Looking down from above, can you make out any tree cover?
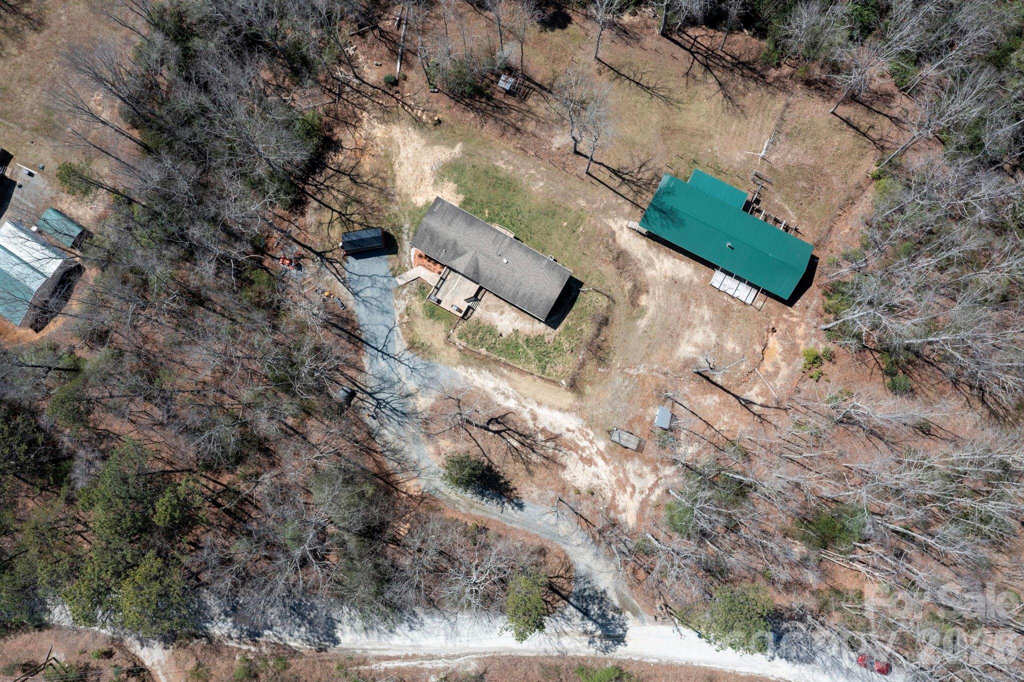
Yes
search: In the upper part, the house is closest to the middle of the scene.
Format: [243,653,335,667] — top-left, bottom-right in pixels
[410,197,572,322]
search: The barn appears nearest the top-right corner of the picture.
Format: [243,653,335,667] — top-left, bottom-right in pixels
[638,169,814,300]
